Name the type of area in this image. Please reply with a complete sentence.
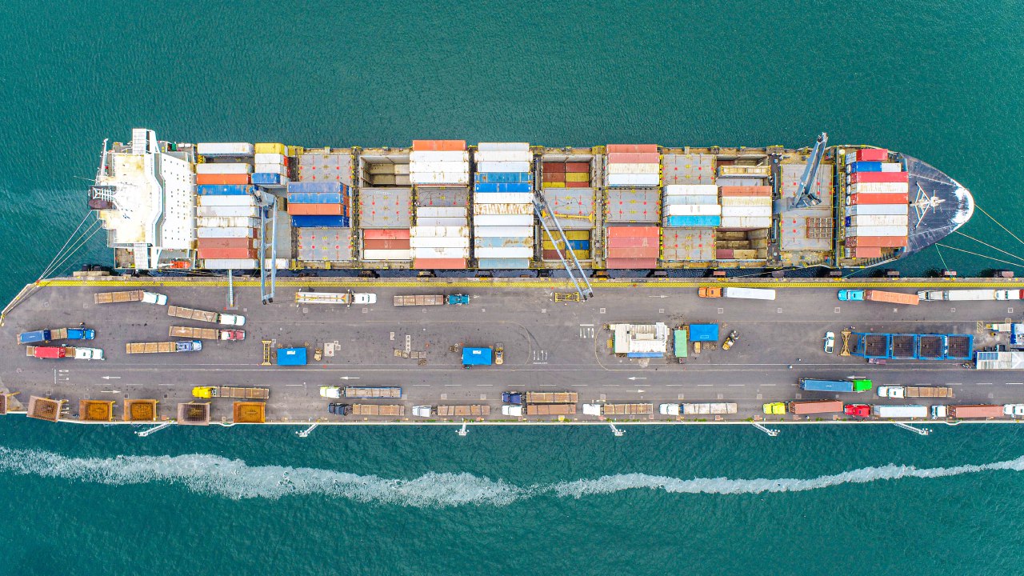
What you see here is a port.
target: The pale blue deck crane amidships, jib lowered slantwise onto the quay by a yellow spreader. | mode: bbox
[529,188,592,302]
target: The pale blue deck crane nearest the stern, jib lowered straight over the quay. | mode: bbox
[258,190,288,306]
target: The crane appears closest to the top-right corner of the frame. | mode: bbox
[772,129,826,216]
